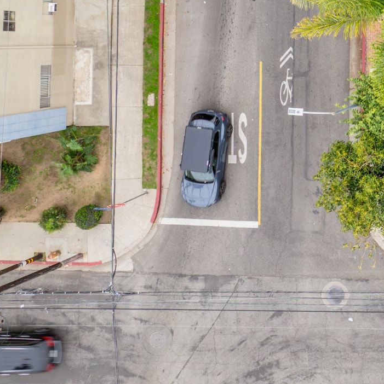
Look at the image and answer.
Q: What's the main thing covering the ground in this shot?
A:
paved ground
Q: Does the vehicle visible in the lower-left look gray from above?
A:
Yes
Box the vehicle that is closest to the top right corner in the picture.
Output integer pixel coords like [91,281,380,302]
[180,112,233,203]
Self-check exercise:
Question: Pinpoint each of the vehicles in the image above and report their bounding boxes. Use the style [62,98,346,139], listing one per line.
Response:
[180,112,233,203]
[0,330,57,381]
